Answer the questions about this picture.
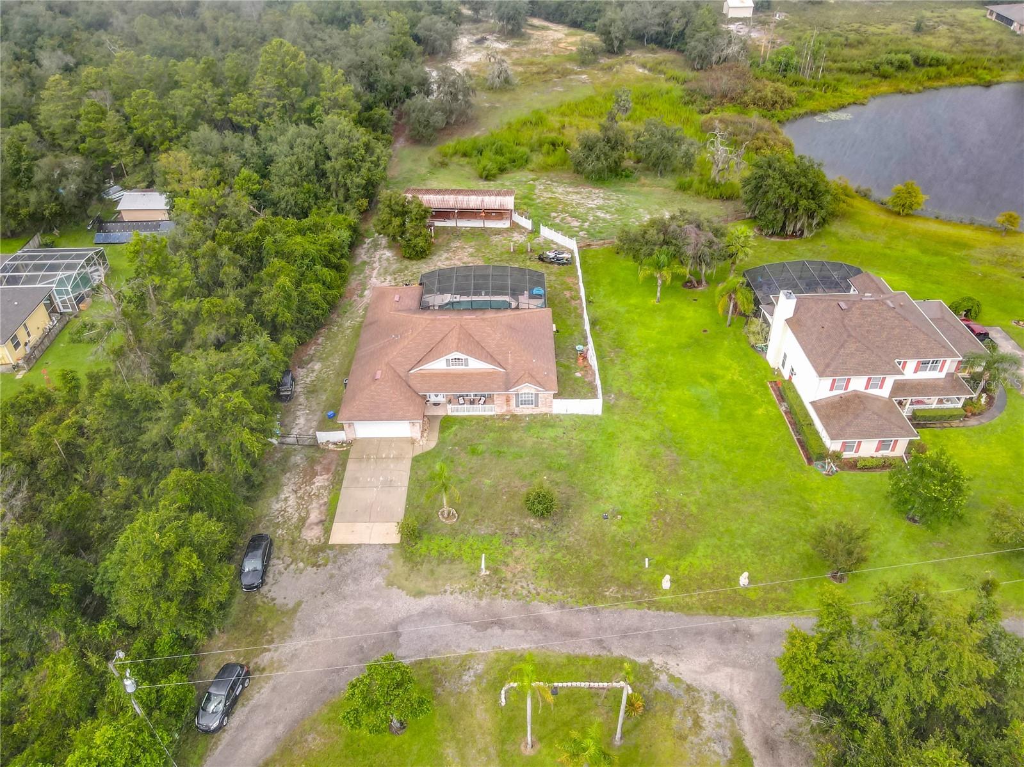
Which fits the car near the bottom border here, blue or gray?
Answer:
gray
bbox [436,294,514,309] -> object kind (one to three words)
swimming pool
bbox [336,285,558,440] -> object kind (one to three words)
house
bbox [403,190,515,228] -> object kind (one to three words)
building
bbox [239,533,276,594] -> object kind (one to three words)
car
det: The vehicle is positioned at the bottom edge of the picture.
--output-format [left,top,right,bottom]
[192,662,255,739]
